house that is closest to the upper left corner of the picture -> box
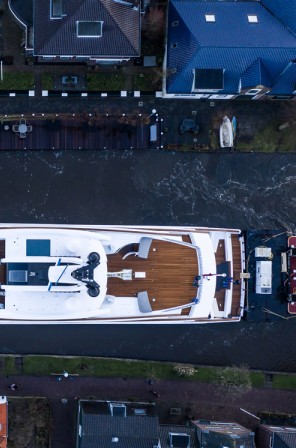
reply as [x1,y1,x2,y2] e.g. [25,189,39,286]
[8,0,141,60]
